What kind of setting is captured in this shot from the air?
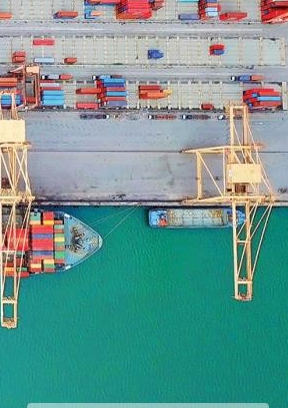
port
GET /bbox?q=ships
[3,207,103,276]
[148,208,246,227]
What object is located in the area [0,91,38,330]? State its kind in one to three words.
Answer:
container crane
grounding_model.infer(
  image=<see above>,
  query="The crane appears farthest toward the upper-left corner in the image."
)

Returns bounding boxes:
[10,63,39,111]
